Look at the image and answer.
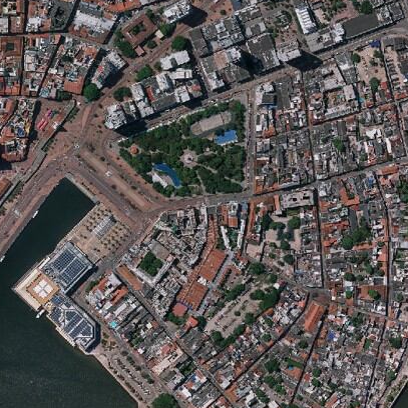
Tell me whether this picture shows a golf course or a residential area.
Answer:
residential area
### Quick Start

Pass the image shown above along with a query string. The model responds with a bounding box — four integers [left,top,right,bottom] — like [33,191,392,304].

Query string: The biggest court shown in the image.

[190,112,232,135]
